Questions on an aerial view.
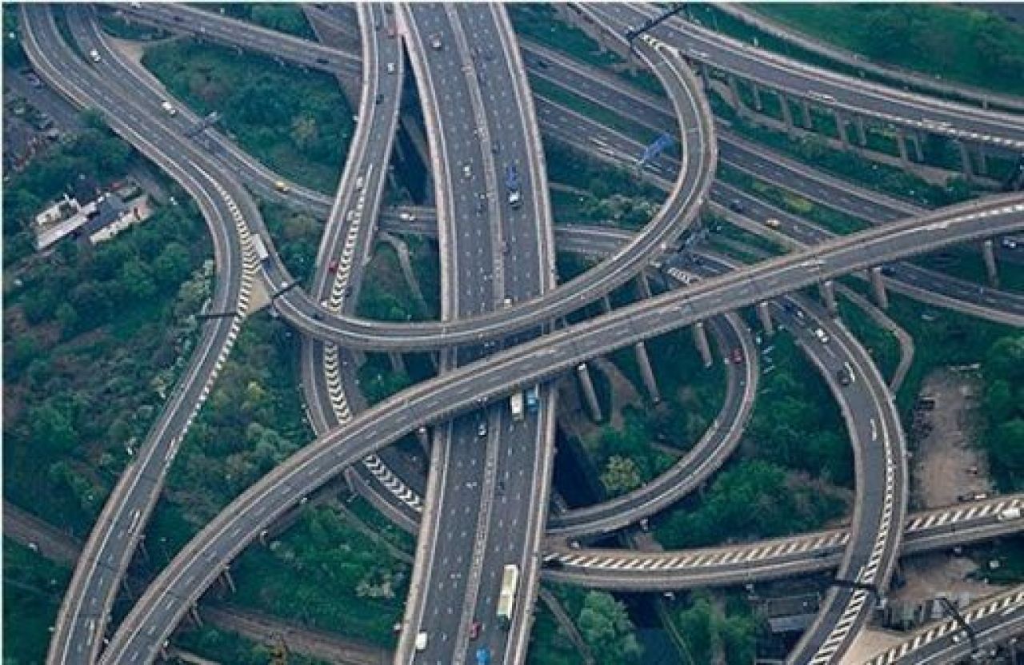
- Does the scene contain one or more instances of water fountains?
No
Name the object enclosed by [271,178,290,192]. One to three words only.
vehicle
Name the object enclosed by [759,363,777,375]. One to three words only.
vehicle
